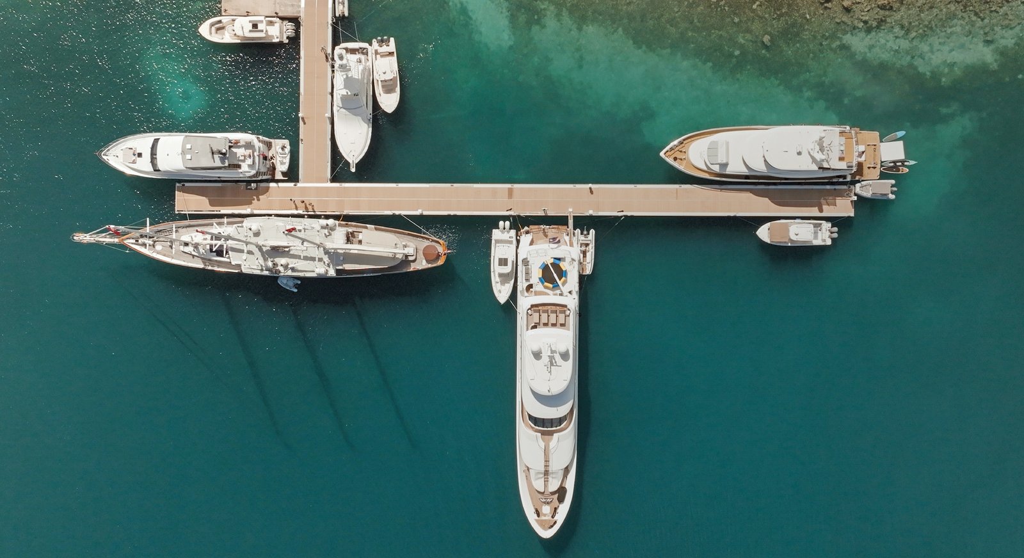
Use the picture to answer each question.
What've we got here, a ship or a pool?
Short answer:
ship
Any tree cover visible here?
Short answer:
No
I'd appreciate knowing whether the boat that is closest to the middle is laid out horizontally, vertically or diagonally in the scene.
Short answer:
vertically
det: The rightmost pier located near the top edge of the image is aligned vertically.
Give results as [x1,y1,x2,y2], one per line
[300,0,333,183]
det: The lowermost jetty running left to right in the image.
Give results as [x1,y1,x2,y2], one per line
[175,183,854,217]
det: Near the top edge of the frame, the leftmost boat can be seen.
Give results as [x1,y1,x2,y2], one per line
[199,16,296,44]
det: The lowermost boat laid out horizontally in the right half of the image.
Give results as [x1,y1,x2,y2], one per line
[755,220,838,246]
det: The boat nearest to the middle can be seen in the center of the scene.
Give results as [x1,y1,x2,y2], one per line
[491,220,516,304]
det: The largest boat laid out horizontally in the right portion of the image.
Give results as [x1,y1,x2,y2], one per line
[660,124,881,183]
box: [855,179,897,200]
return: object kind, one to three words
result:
boat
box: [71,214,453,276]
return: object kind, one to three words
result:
ship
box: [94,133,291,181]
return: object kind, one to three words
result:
boat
